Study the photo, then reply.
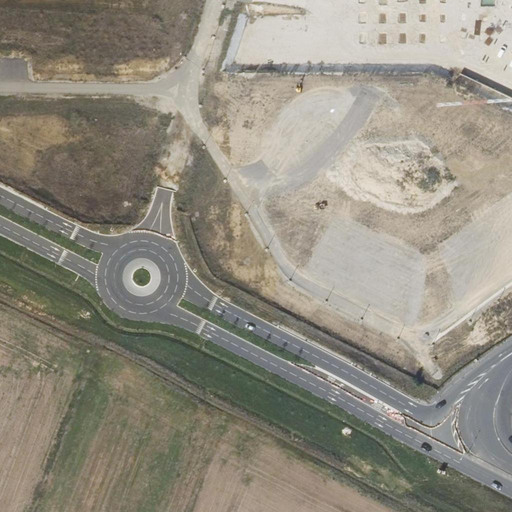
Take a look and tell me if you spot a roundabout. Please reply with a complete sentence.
Yes, there's a roundabout down there.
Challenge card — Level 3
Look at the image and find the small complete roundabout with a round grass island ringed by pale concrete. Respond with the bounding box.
[96,232,188,322]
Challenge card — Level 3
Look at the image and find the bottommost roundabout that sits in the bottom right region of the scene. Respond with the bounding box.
[470,340,512,484]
